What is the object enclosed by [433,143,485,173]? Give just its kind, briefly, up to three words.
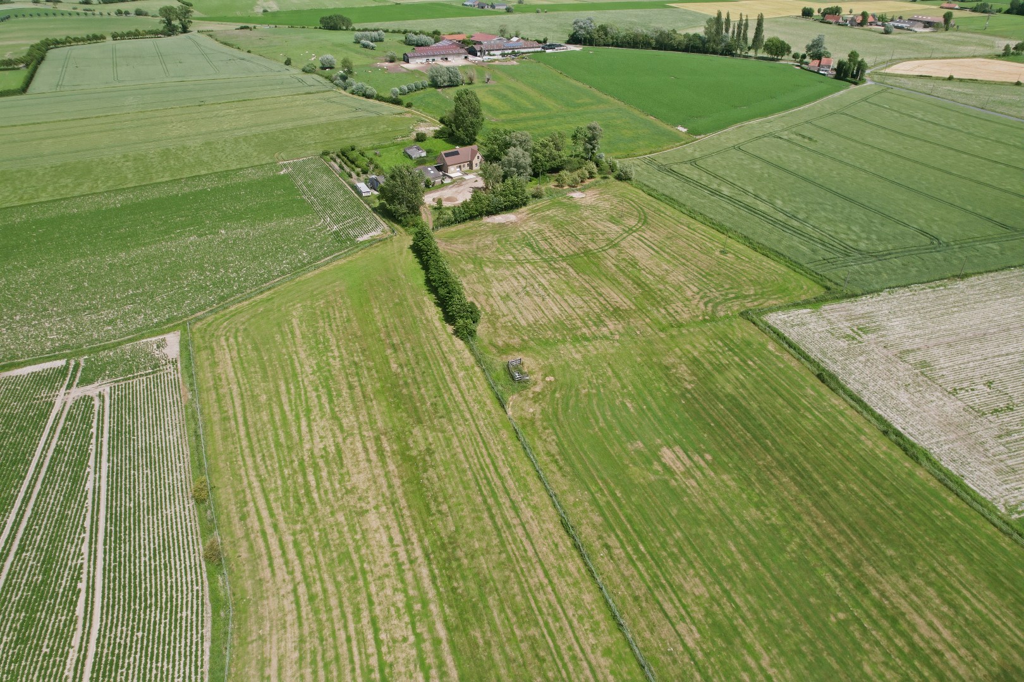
house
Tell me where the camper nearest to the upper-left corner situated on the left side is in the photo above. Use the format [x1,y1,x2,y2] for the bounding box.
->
[355,180,370,194]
